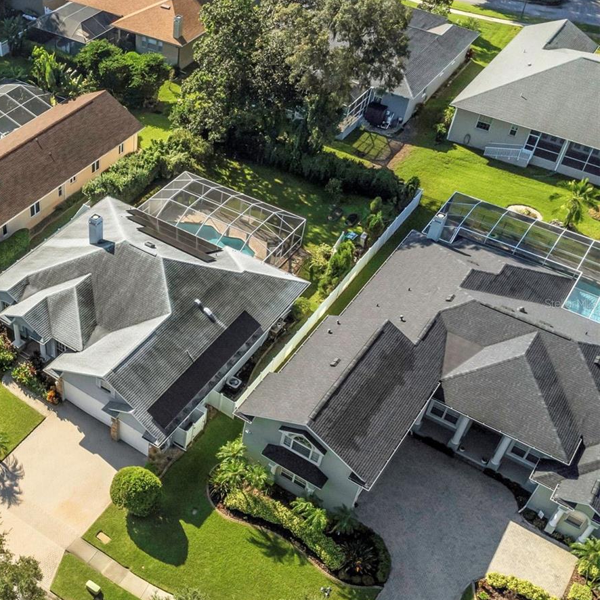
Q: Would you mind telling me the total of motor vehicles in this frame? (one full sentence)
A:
There are no motor vehicles in the image.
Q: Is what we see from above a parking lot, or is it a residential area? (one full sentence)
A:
It's a residential area.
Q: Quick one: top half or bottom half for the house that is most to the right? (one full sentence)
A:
It is in the top half that the house that is most to the right appears.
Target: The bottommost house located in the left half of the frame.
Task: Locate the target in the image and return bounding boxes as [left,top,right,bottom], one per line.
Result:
[0,193,309,458]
